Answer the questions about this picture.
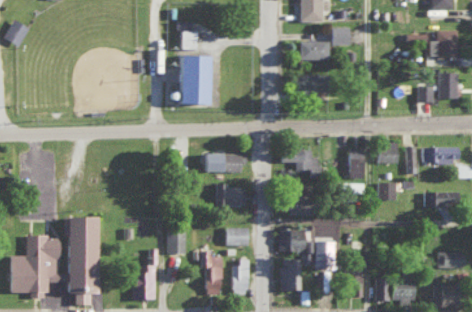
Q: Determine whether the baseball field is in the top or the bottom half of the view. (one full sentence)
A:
The baseball field is in the top half of the image.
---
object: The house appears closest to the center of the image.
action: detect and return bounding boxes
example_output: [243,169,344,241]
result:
[206,152,246,181]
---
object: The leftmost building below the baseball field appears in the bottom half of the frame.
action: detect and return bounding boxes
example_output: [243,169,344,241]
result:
[10,236,62,298]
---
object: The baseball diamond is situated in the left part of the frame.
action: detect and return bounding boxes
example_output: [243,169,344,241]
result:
[16,0,144,116]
